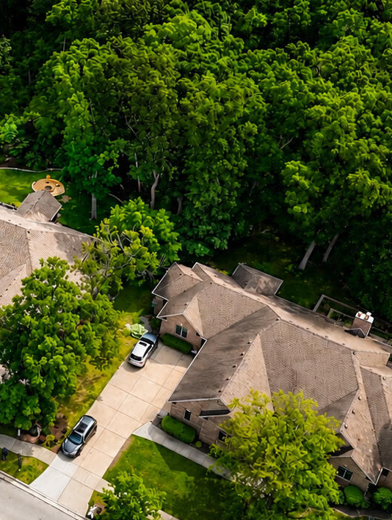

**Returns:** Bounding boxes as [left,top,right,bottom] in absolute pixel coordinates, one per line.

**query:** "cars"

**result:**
[127,331,164,370]
[61,415,102,462]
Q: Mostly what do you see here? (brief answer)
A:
trees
